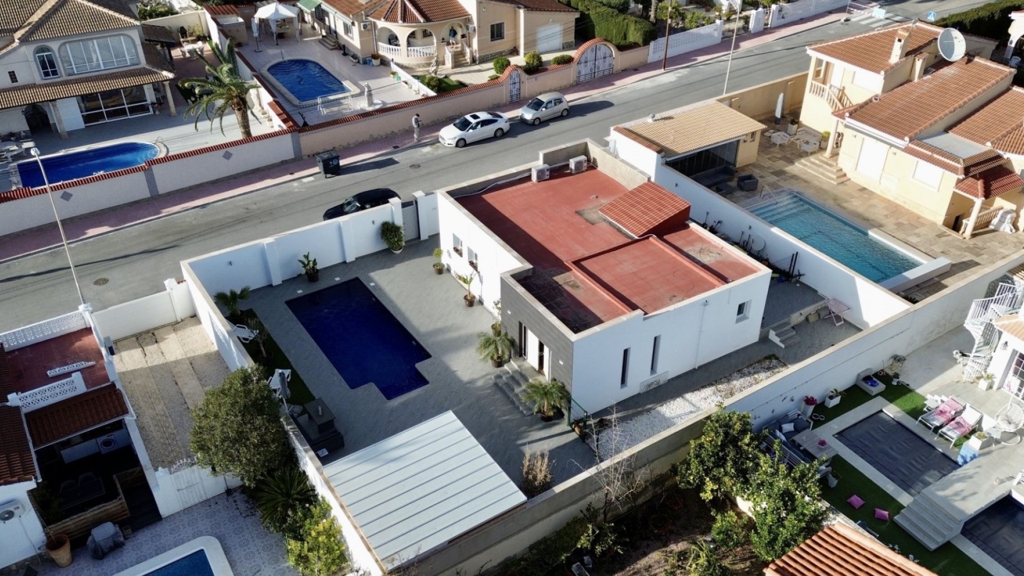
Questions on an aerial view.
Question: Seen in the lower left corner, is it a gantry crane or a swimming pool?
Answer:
swimming pool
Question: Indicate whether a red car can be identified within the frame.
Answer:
No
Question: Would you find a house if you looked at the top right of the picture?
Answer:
Yes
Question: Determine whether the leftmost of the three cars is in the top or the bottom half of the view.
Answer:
top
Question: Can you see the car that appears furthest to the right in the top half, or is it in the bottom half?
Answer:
top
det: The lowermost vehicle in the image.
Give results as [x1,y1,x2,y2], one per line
[317,180,407,221]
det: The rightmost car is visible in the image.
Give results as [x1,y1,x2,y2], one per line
[516,88,569,125]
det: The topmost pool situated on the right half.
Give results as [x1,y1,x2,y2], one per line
[733,181,957,290]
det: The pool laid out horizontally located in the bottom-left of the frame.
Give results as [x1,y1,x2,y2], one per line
[120,542,234,576]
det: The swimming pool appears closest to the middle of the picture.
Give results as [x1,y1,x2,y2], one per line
[285,276,431,398]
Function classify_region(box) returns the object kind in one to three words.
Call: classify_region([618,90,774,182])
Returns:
building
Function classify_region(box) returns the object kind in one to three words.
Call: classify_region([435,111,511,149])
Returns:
car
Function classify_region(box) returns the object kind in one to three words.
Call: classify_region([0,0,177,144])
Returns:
house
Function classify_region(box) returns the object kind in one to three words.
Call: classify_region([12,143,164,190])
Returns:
swimming pool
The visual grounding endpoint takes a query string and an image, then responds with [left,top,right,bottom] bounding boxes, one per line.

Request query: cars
[435,111,511,149]
[516,88,569,125]
[317,180,407,221]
